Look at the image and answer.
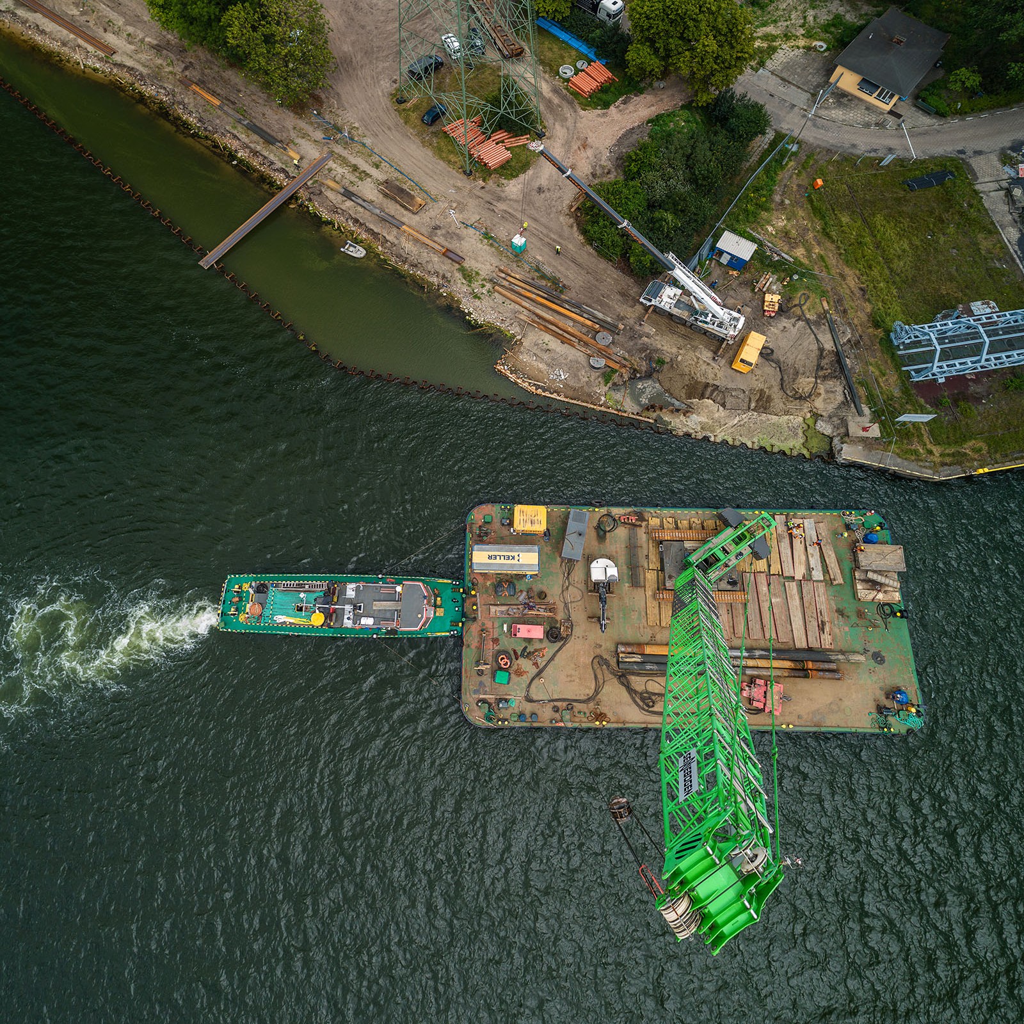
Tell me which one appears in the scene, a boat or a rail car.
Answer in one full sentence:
The one in the frame is a boat.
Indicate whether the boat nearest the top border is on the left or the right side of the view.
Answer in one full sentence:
The boat nearest the top border is on the left side of the image.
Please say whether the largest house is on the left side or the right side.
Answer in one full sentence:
The largest house is on the right side of the image.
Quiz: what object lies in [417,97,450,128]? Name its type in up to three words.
car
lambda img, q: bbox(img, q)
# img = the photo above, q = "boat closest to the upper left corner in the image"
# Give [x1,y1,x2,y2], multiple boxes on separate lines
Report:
[340,238,368,259]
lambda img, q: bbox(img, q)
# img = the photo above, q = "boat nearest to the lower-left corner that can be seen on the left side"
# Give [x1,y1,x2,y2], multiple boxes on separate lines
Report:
[217,572,466,640]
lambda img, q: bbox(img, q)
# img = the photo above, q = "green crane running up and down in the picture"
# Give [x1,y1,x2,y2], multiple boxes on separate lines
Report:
[592,507,811,953]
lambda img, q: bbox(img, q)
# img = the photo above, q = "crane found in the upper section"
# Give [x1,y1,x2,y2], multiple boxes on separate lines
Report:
[517,140,752,366]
